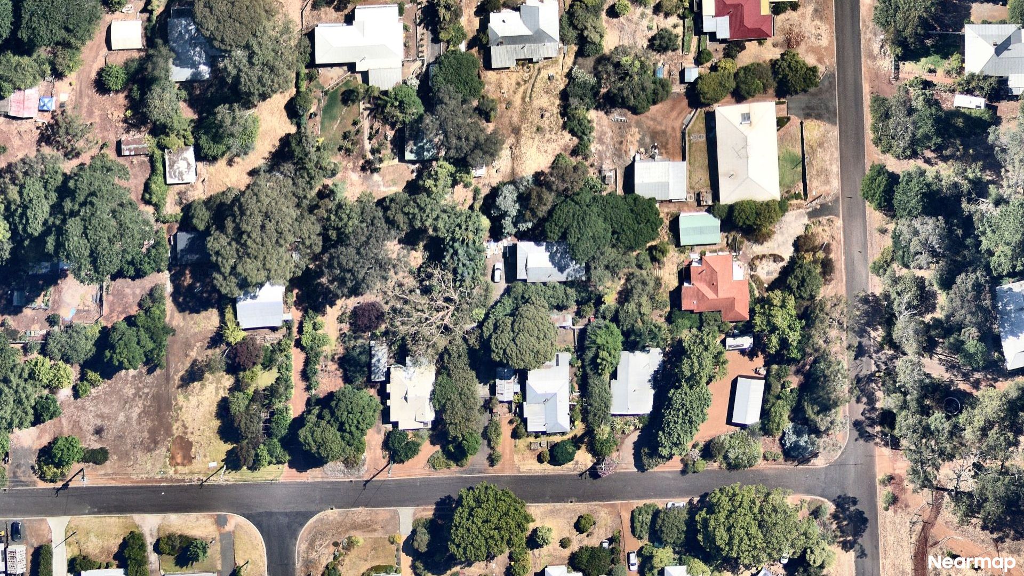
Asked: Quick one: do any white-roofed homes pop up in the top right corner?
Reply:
Yes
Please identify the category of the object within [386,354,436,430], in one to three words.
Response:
house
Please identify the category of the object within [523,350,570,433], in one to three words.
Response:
house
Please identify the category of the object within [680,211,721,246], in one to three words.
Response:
shed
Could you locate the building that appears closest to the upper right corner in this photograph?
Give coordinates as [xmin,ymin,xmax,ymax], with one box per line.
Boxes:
[964,22,1024,96]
